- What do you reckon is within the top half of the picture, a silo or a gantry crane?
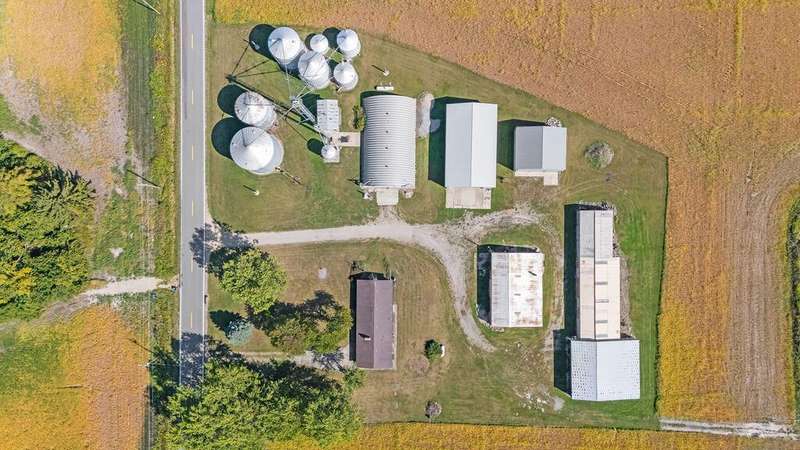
silo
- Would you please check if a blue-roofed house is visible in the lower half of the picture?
No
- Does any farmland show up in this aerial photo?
Yes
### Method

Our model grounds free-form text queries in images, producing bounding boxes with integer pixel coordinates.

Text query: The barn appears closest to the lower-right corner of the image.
[566,338,640,401]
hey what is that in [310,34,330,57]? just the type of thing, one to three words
silo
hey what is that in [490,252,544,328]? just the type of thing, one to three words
barn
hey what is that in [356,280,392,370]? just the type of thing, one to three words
house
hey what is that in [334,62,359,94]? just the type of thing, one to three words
silo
